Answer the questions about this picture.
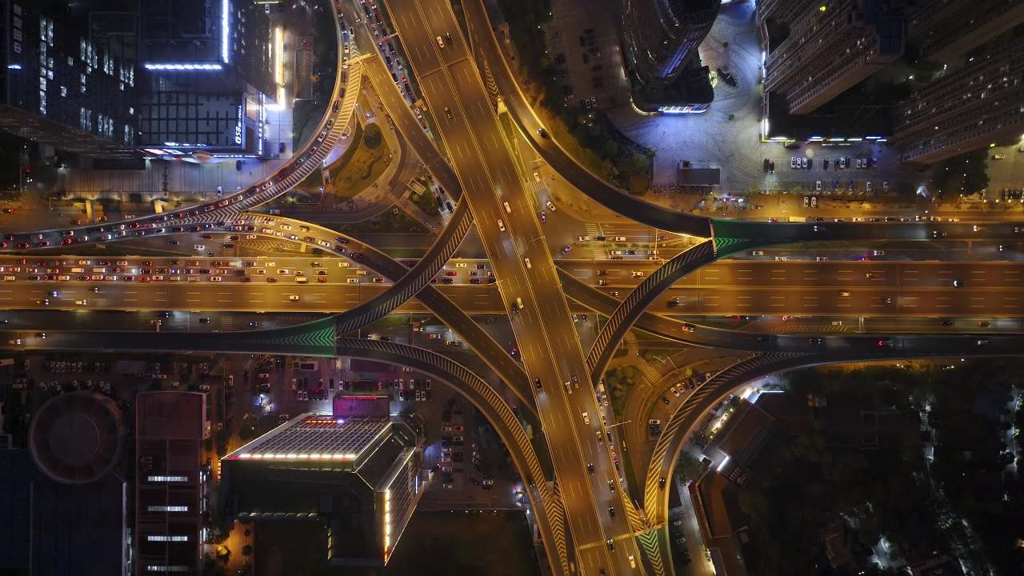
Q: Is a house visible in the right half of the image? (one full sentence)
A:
Yes, the scene does show a house in the right half of the image.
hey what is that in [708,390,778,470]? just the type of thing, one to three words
house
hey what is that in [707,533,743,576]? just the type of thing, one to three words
house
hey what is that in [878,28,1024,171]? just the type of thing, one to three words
building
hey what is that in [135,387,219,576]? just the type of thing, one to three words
building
